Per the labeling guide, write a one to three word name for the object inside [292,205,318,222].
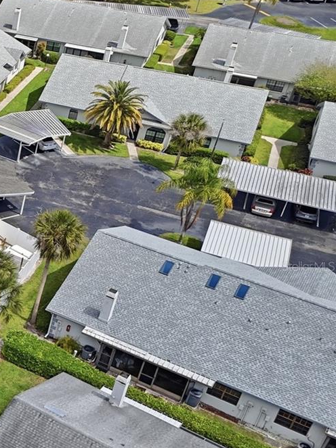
car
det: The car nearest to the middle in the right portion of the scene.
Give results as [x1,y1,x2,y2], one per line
[253,195,279,217]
